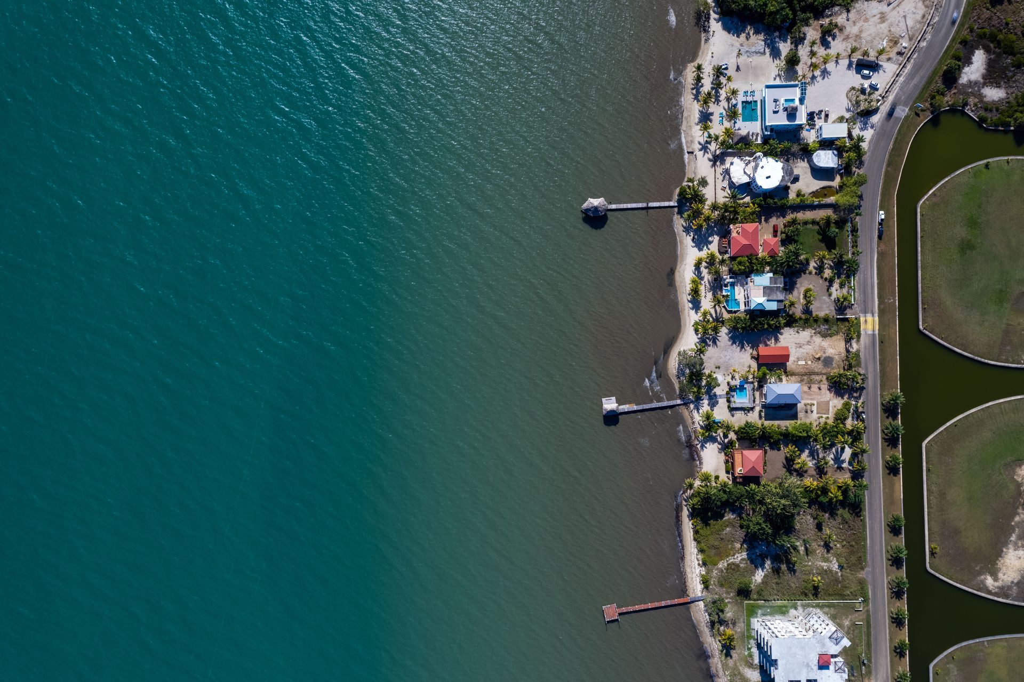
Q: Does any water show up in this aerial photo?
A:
Yes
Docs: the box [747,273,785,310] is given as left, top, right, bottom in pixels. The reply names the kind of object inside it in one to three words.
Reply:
house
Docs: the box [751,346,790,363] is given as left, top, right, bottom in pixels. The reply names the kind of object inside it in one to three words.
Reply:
shed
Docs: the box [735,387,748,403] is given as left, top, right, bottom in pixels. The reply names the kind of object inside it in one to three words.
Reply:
swimming pool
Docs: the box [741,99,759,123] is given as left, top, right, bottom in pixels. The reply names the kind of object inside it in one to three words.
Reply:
swimming pool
